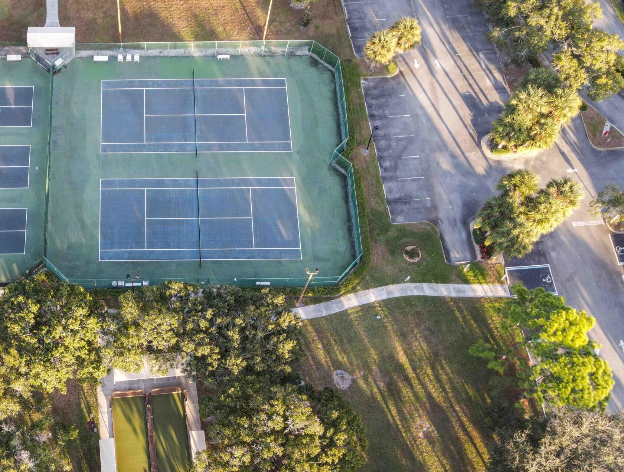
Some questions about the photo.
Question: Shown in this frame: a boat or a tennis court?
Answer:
tennis court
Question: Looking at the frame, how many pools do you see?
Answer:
zero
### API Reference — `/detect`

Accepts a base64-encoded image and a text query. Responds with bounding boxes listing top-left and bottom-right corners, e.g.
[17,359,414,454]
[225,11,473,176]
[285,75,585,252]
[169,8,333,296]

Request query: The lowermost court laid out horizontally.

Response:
[99,169,301,268]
